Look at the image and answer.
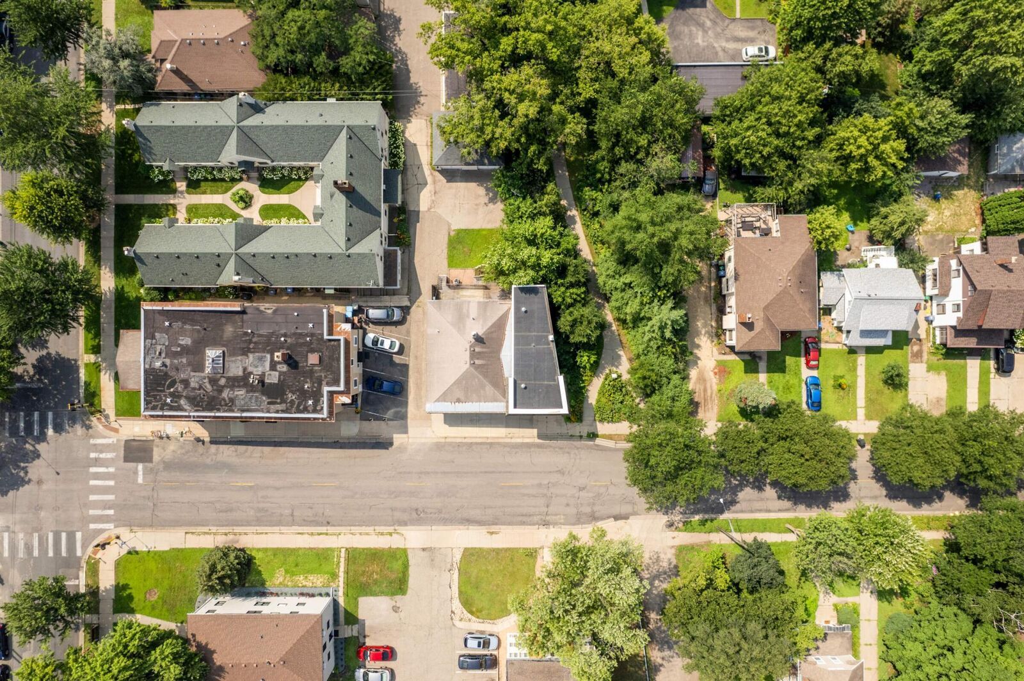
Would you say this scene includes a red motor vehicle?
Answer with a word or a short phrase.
Yes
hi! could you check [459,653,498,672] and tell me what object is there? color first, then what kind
gray car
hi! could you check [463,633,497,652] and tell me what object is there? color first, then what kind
white car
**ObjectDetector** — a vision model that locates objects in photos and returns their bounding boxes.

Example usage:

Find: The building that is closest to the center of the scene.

[426,286,567,413]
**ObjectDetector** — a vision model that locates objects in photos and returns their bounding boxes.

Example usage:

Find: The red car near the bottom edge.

[357,644,393,663]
